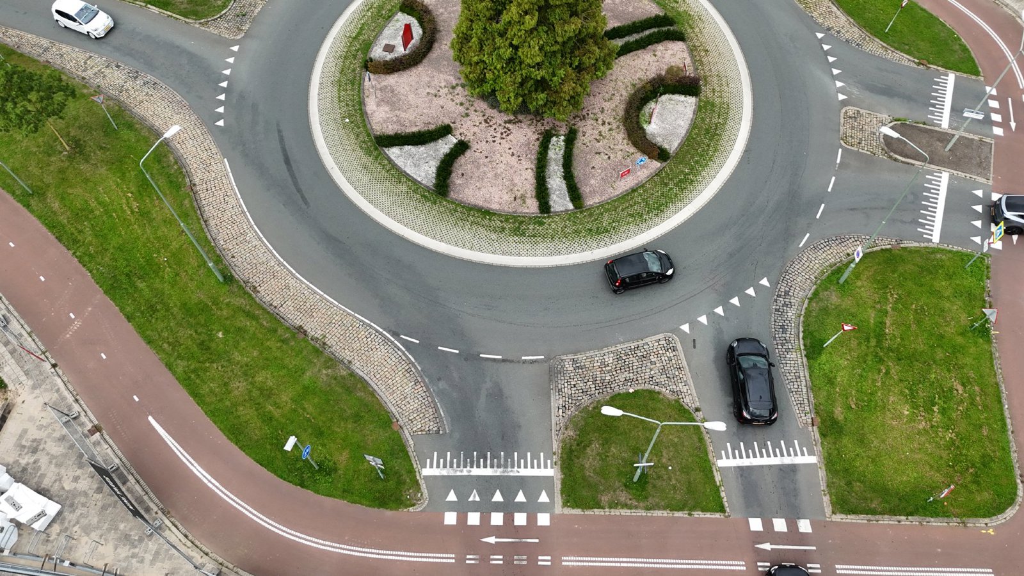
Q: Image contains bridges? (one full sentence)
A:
No, the picture doesn't show any bridge.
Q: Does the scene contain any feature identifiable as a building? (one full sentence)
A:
No, the frame has no building in it.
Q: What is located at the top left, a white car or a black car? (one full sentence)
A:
It is a white car that can be seen at the top left.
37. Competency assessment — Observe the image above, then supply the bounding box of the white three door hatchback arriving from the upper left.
[48,0,116,39]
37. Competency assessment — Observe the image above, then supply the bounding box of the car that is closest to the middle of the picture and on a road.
[600,242,675,295]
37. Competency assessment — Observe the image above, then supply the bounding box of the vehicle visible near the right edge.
[991,196,1024,239]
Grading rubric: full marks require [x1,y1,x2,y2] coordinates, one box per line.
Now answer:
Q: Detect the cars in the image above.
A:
[767,565,812,576]
[600,242,675,295]
[48,0,116,39]
[726,337,782,427]
[991,196,1024,239]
